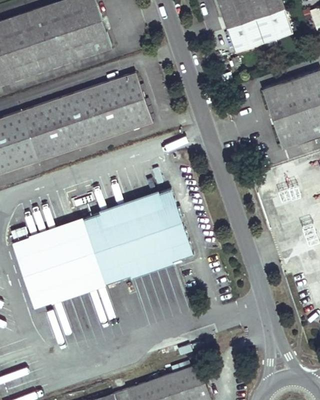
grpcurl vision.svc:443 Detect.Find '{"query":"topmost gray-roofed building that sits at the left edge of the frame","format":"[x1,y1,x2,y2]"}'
[0,0,111,91]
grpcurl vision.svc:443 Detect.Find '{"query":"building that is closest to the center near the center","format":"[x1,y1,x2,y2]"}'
[84,189,191,286]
